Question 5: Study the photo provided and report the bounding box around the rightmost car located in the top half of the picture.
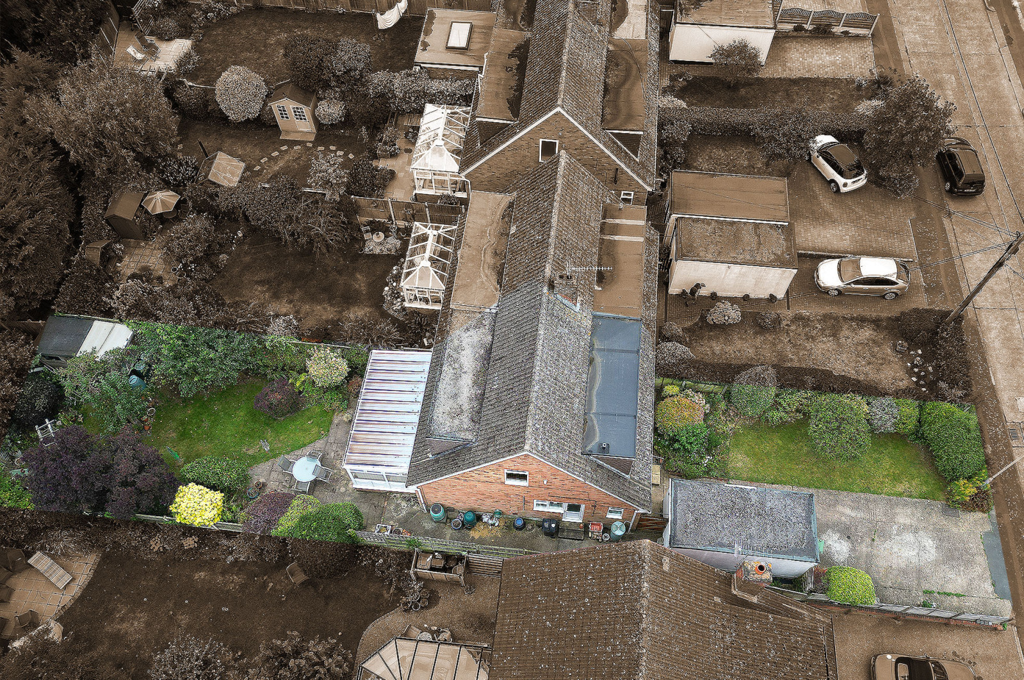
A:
[939,139,990,204]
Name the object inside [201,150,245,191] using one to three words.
greenhouse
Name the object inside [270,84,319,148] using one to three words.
shed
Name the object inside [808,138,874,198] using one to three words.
car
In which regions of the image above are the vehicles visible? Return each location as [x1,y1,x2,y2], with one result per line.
[939,139,990,204]
[814,254,914,305]
[864,647,985,680]
[808,138,874,198]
